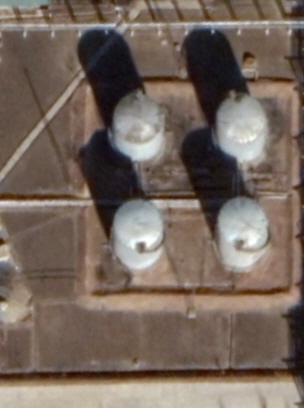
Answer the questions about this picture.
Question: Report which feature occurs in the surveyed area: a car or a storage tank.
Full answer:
I can see a storage tank in this picture.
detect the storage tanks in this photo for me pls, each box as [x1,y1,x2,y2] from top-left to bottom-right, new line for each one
[111,201,168,269]
[216,201,273,269]
[111,93,168,173]
[215,93,272,193]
